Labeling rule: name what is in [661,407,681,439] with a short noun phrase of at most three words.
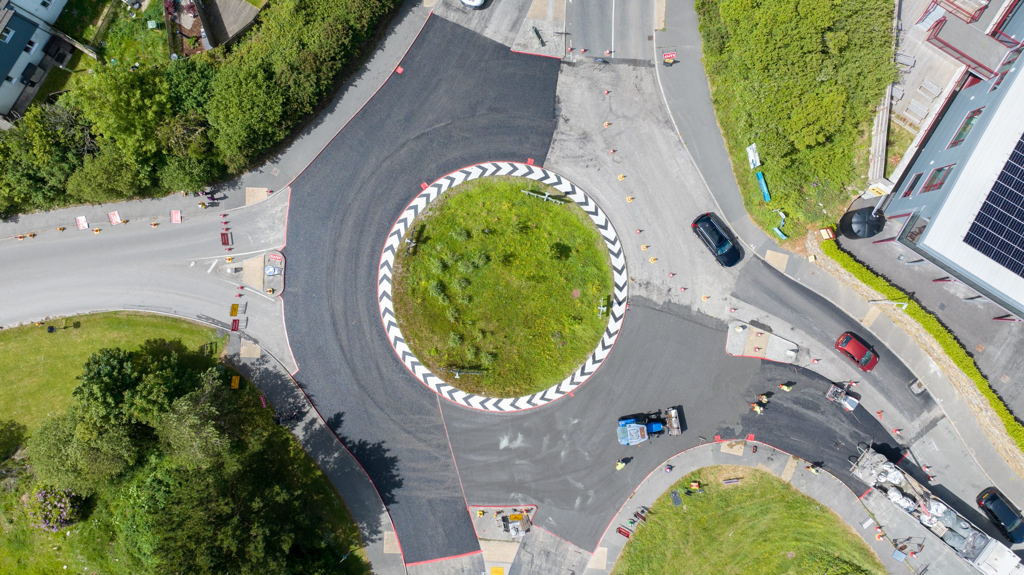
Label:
vehicle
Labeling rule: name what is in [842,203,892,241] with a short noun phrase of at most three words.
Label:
water tank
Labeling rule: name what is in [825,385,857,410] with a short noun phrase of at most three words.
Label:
work vehicle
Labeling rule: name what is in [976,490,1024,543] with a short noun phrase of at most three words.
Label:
car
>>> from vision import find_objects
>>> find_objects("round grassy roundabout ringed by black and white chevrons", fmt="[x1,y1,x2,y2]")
[379,162,628,411]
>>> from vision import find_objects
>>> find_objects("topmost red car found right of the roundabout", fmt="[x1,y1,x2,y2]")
[834,332,879,373]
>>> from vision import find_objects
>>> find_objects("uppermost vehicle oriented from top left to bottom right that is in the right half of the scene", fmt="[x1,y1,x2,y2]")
[692,212,739,268]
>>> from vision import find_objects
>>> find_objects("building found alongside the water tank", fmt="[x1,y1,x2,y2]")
[873,0,1024,321]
